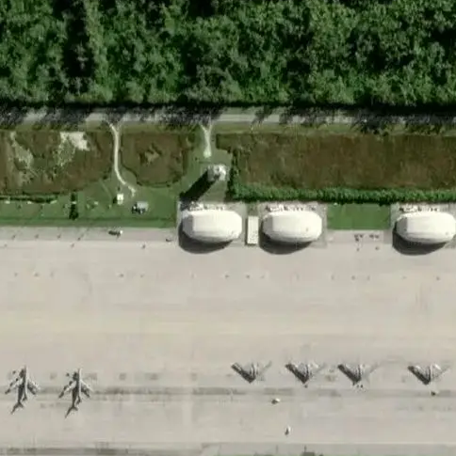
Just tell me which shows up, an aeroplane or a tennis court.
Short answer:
aeroplane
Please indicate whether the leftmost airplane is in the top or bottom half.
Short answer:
bottom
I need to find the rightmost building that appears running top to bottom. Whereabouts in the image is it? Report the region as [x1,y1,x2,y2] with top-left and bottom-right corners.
[246,216,258,244]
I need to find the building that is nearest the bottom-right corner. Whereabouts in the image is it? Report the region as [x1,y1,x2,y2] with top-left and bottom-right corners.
[395,214,455,245]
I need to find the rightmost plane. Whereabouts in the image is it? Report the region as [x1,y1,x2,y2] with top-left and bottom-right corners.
[410,363,449,382]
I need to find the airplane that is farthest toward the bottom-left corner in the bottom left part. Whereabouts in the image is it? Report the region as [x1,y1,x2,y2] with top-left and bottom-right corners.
[10,367,43,399]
